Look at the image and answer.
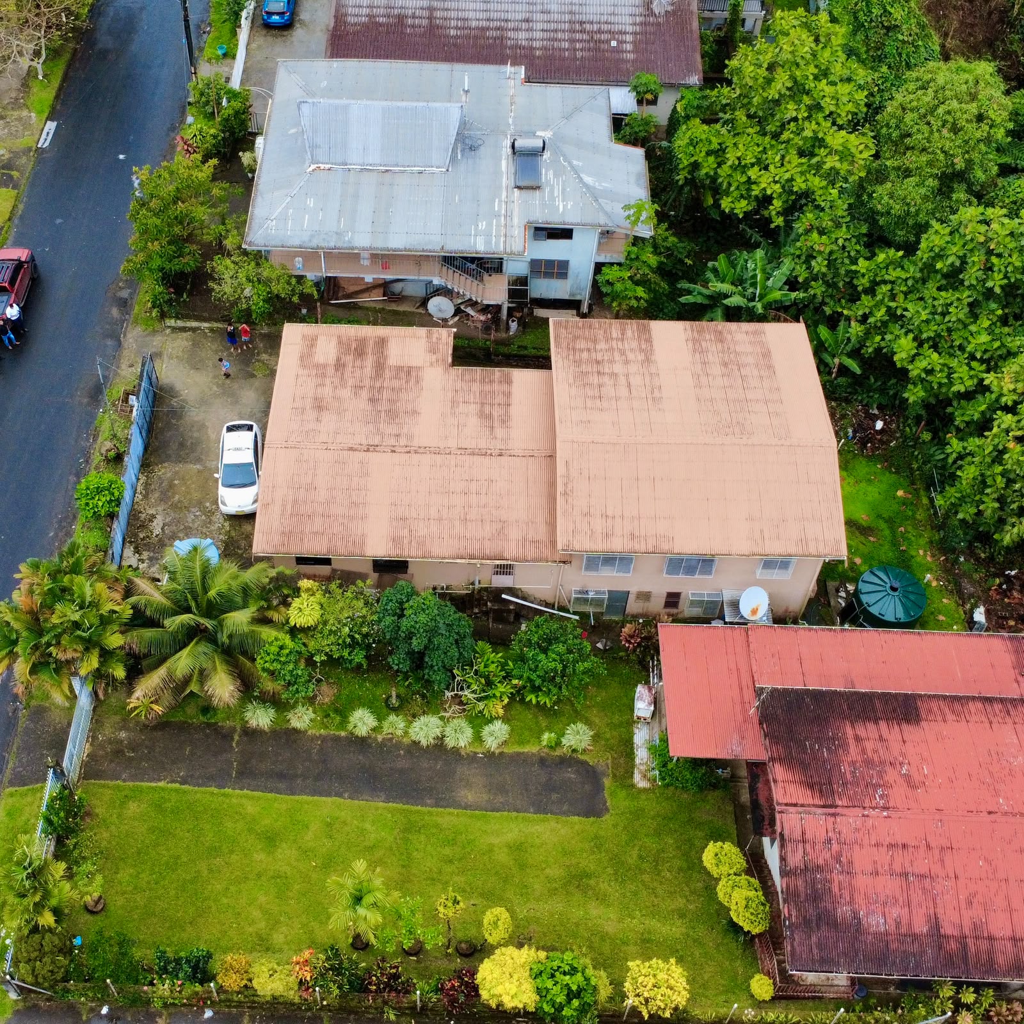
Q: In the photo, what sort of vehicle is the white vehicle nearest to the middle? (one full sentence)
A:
Looking closely, the white vehicle nearest to the middle is an automobile.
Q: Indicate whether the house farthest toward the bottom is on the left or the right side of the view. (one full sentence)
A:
The house farthest toward the bottom is on the right side of the image.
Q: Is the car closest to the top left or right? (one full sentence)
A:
It is on the left.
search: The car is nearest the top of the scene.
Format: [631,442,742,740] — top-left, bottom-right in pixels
[261,0,296,24]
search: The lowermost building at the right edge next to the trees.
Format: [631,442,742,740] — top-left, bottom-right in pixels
[656,619,1024,995]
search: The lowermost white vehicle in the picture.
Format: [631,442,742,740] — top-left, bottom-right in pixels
[213,422,264,515]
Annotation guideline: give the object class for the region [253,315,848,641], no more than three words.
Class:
house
